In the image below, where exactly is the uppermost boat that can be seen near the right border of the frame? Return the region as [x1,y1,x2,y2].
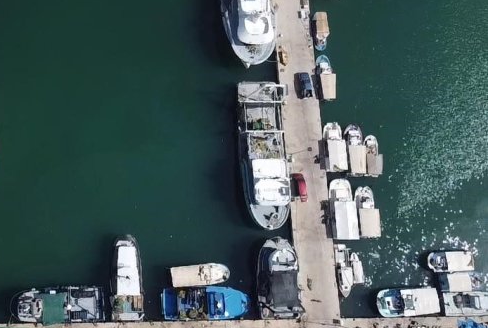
[426,251,474,273]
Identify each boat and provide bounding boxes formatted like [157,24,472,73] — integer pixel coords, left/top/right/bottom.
[219,0,276,69]
[426,251,474,273]
[317,118,347,174]
[353,186,381,238]
[108,236,149,324]
[169,262,229,288]
[437,272,482,293]
[363,135,383,179]
[253,237,309,320]
[440,292,488,317]
[343,124,366,179]
[325,179,359,244]
[152,284,248,324]
[349,251,363,283]
[368,288,443,321]
[334,244,353,298]
[10,282,104,324]
[313,55,337,105]
[233,78,310,235]
[312,11,329,53]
